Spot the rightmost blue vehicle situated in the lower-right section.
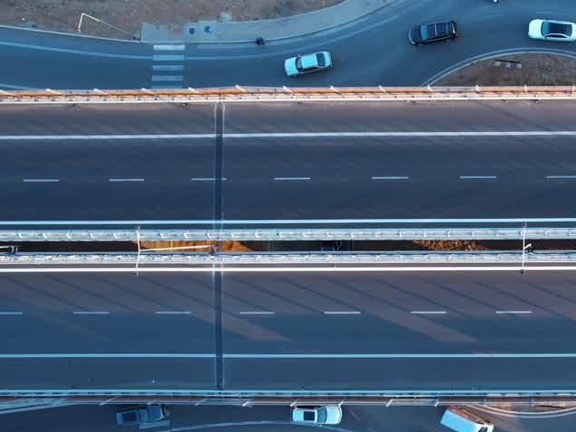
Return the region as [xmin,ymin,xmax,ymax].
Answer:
[439,406,493,432]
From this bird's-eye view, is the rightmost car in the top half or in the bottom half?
top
